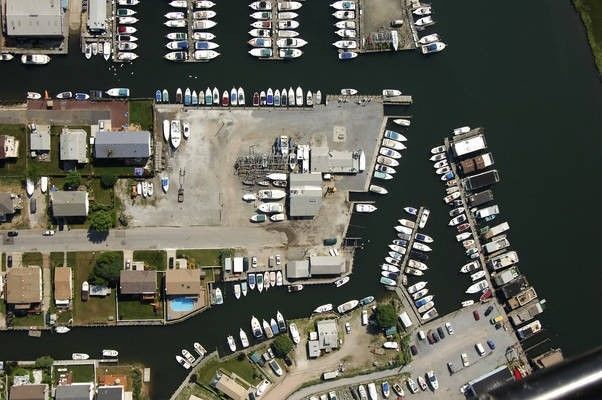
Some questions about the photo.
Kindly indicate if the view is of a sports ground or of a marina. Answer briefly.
marina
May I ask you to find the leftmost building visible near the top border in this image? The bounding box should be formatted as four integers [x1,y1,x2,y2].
[6,0,63,36]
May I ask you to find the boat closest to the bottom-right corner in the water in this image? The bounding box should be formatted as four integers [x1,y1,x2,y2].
[532,349,564,371]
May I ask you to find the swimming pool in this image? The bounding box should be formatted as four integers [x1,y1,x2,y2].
[170,296,197,312]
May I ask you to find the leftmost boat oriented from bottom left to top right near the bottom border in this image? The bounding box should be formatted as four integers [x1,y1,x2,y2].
[255,378,273,398]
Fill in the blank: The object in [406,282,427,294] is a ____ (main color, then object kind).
white boat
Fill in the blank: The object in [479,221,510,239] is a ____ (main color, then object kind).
white boat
